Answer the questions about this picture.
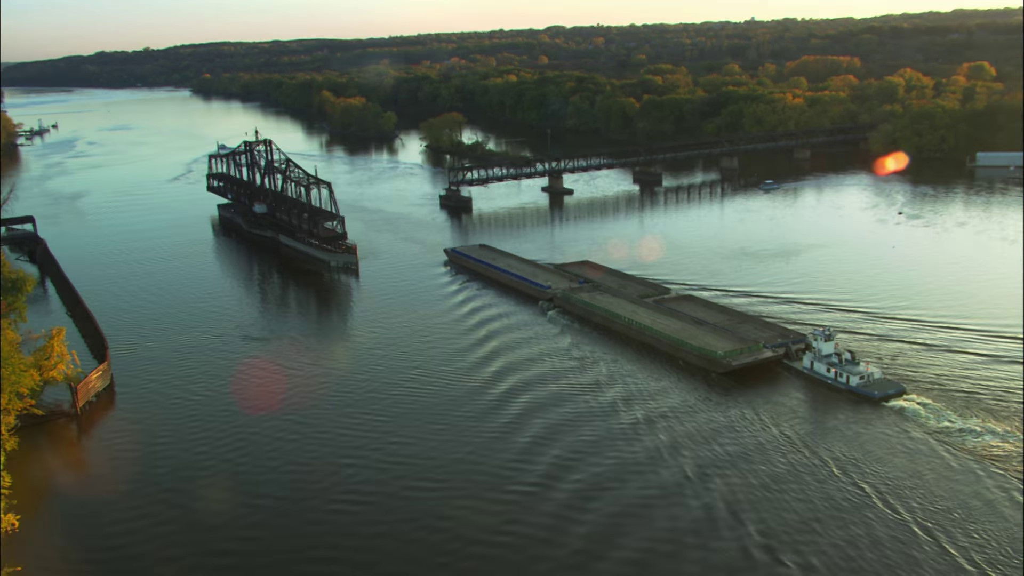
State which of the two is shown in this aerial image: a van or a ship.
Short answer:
ship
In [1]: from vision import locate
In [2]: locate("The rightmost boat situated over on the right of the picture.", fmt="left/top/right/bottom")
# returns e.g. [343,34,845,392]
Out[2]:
[789,326,904,401]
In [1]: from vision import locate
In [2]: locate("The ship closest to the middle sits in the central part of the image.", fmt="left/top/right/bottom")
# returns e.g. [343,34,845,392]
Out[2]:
[442,243,587,306]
